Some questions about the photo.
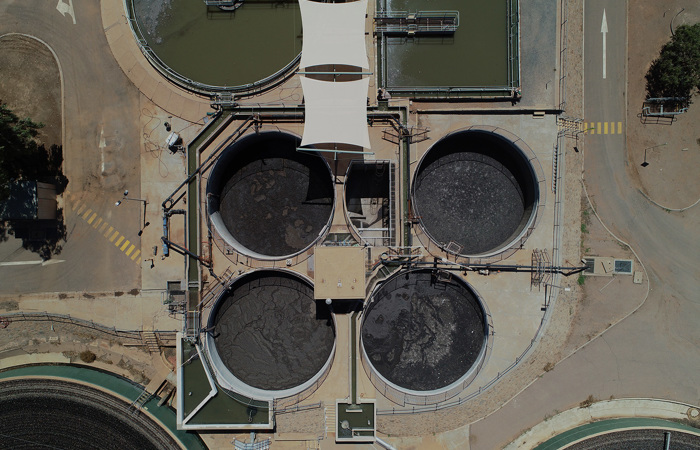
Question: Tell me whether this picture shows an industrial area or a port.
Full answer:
This looks like an industrial area.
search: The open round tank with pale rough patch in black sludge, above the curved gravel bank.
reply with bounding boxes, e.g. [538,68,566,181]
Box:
[361,267,492,400]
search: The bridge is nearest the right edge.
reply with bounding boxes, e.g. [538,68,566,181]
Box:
[375,12,458,36]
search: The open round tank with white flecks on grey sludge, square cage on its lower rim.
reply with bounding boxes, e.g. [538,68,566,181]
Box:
[412,127,546,258]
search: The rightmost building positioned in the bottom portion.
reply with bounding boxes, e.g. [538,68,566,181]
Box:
[314,247,364,299]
